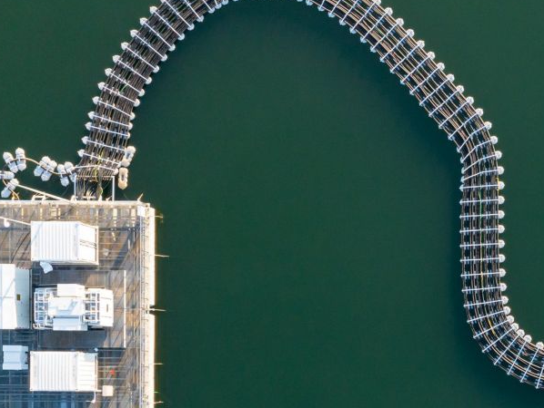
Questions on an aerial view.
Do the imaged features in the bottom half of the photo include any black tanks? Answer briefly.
No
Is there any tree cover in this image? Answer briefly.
No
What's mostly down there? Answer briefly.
water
